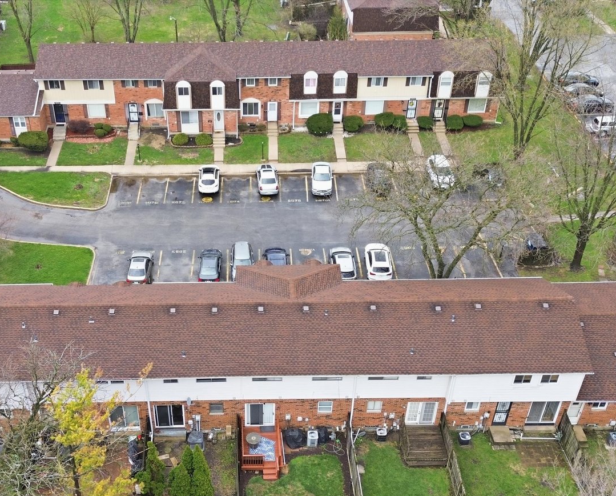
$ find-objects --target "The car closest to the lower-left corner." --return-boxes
[126,246,154,283]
